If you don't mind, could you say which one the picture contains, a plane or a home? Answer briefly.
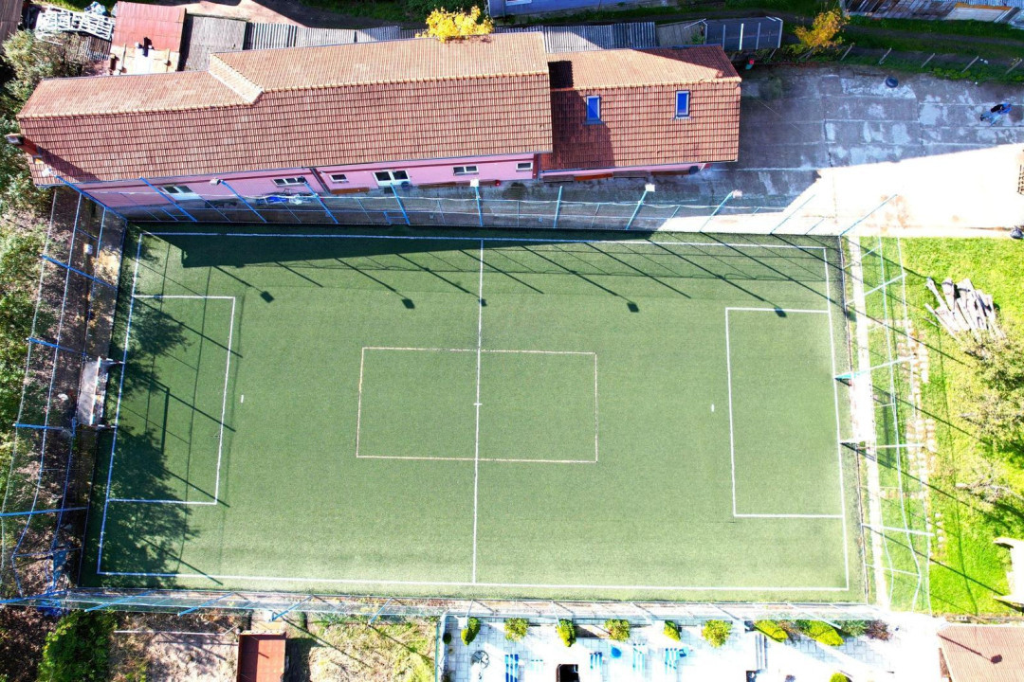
home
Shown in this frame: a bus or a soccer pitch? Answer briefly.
soccer pitch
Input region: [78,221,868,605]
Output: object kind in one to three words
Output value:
soccer field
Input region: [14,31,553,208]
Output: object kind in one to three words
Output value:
house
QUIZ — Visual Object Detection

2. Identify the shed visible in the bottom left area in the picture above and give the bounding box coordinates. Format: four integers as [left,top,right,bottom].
[233,629,291,682]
